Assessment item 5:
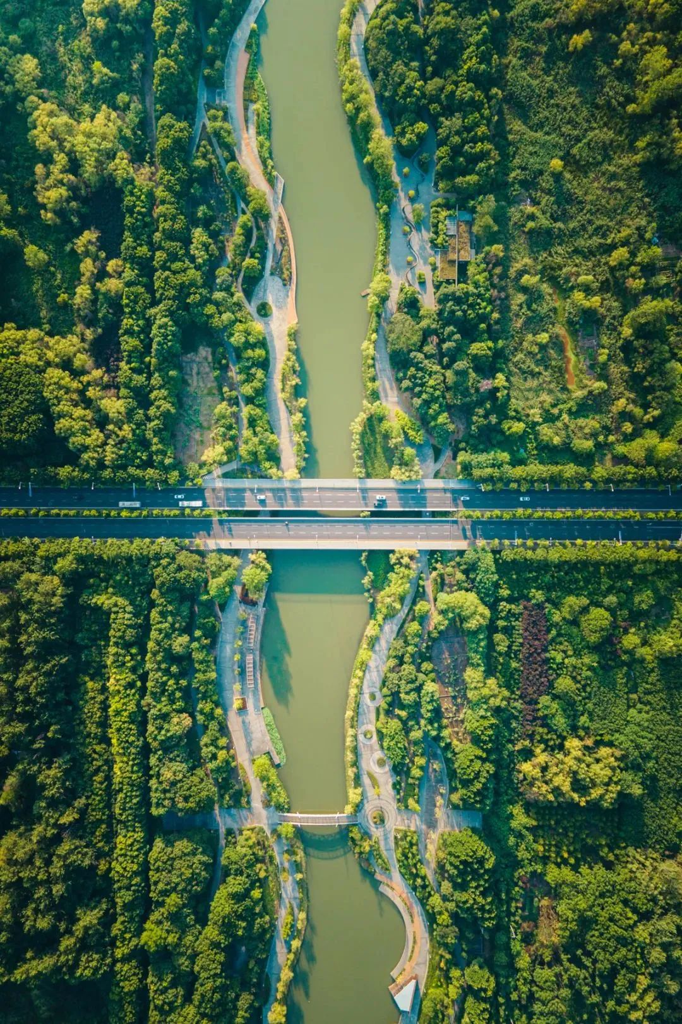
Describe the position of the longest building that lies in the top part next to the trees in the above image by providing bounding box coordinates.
[435,206,476,283]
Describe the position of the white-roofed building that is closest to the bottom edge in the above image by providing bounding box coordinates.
[388,974,418,1014]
